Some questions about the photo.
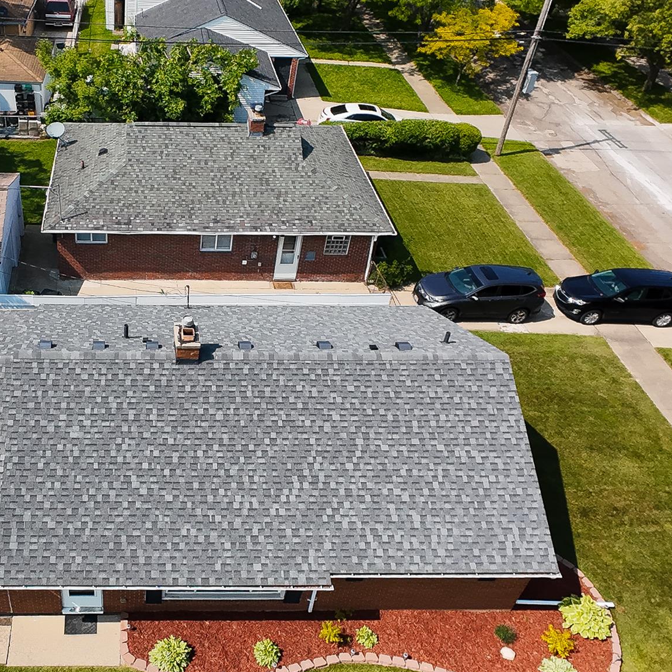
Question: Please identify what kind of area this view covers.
residential area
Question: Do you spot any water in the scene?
No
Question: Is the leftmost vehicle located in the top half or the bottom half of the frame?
top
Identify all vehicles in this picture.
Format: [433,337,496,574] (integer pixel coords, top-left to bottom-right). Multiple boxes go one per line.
[47,0,75,22]
[553,265,672,324]
[320,105,410,138]
[416,262,550,321]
